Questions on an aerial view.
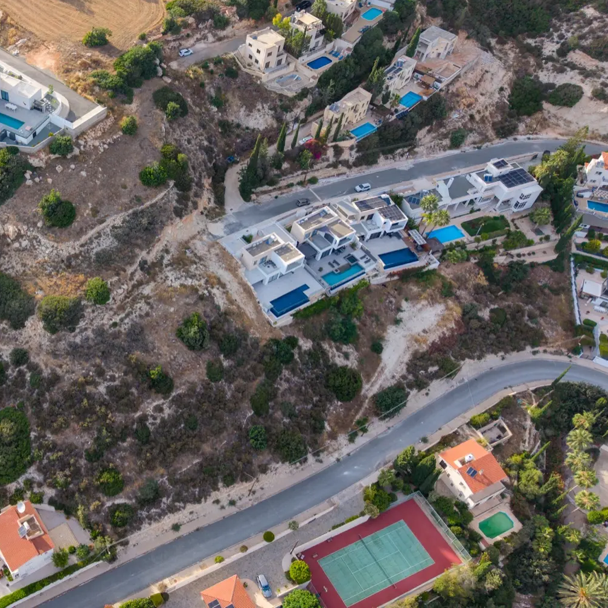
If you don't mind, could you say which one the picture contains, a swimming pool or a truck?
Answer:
swimming pool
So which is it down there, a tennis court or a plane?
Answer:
tennis court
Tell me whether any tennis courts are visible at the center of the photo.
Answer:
No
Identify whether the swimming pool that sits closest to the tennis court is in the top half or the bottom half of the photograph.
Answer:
bottom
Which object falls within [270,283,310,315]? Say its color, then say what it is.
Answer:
blue swimming pool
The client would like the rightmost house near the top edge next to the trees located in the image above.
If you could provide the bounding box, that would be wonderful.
[414,27,457,59]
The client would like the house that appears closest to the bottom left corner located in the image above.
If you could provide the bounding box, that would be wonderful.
[0,500,56,580]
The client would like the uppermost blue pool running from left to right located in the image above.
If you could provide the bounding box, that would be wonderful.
[306,56,333,70]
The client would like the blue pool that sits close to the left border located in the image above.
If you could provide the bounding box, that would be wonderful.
[0,112,25,129]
